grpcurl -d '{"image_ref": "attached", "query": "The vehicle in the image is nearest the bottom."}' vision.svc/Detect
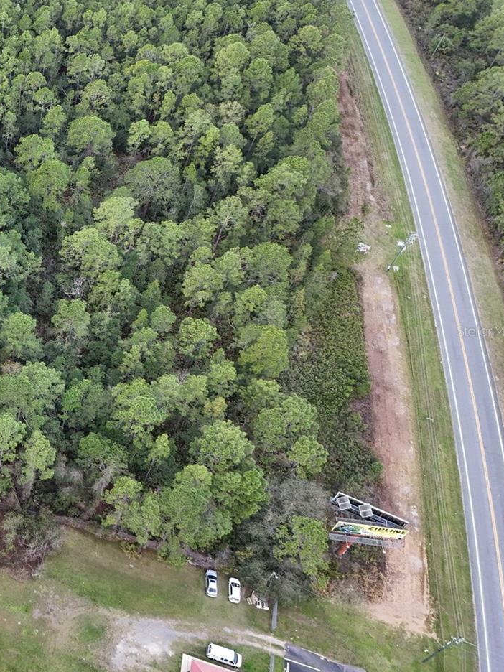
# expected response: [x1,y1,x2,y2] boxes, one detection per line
[204,643,244,669]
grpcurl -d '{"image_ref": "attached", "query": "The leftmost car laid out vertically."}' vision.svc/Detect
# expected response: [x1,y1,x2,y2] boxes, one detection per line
[203,569,219,600]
